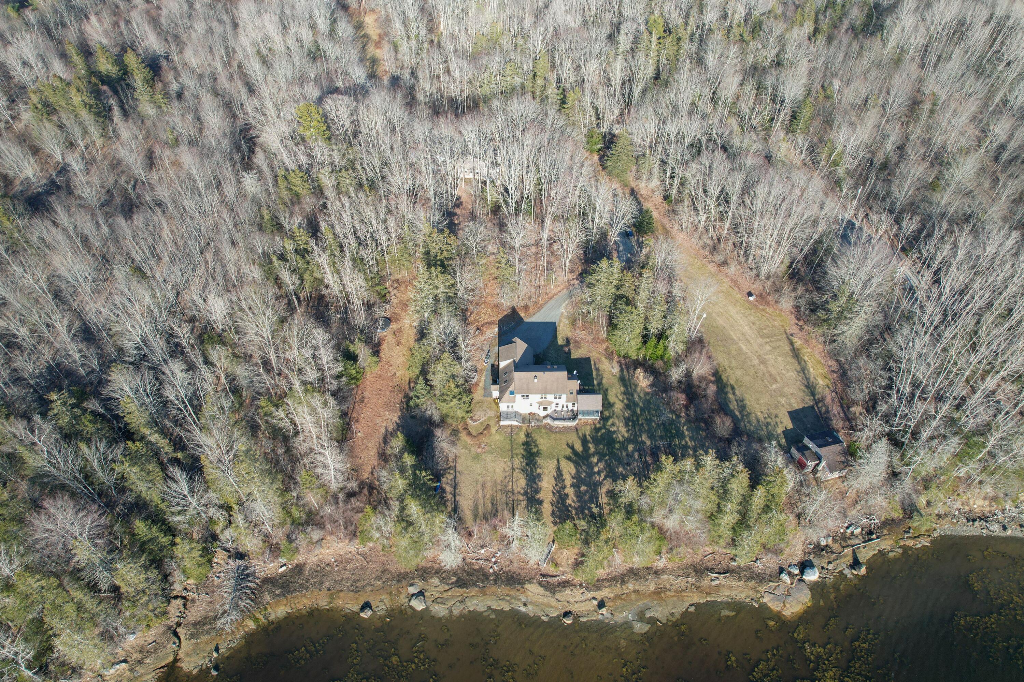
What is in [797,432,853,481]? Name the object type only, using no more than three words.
barn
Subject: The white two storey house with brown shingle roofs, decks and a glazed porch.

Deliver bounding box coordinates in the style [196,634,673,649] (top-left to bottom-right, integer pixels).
[491,337,603,430]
